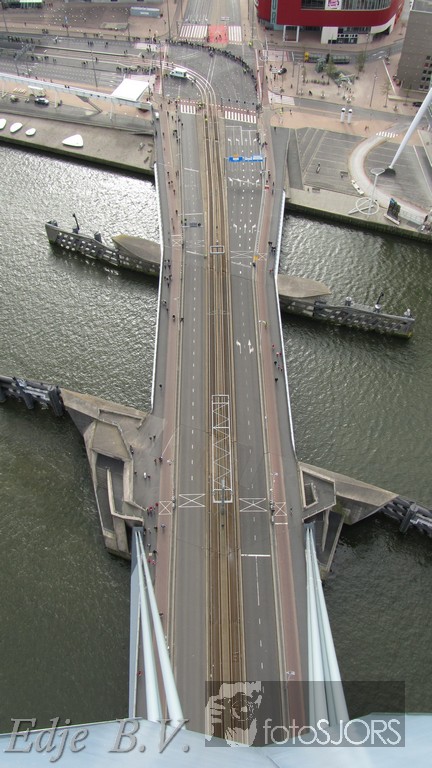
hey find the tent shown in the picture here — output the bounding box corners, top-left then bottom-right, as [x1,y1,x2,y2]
[112,79,152,102]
